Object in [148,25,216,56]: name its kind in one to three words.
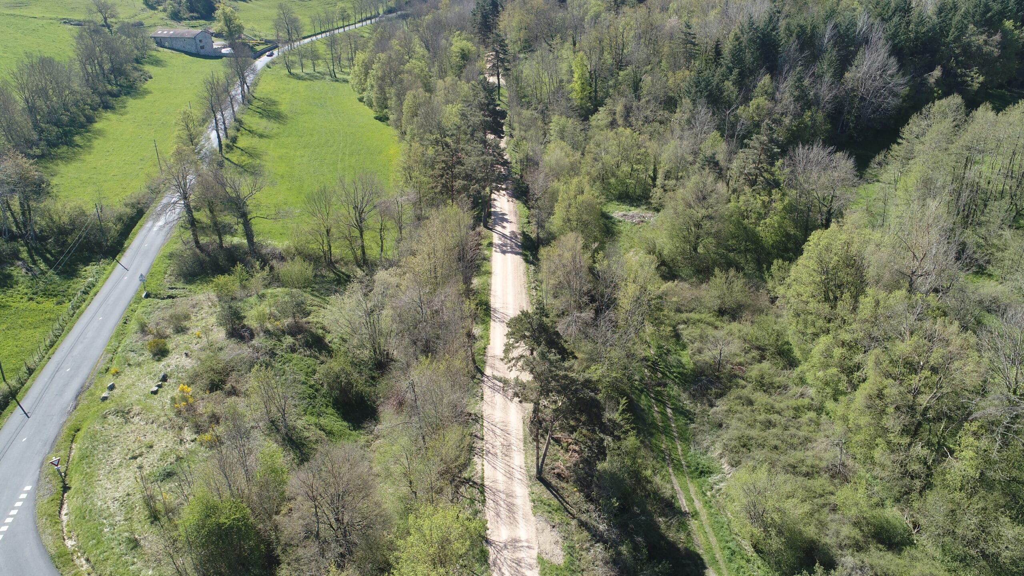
barn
